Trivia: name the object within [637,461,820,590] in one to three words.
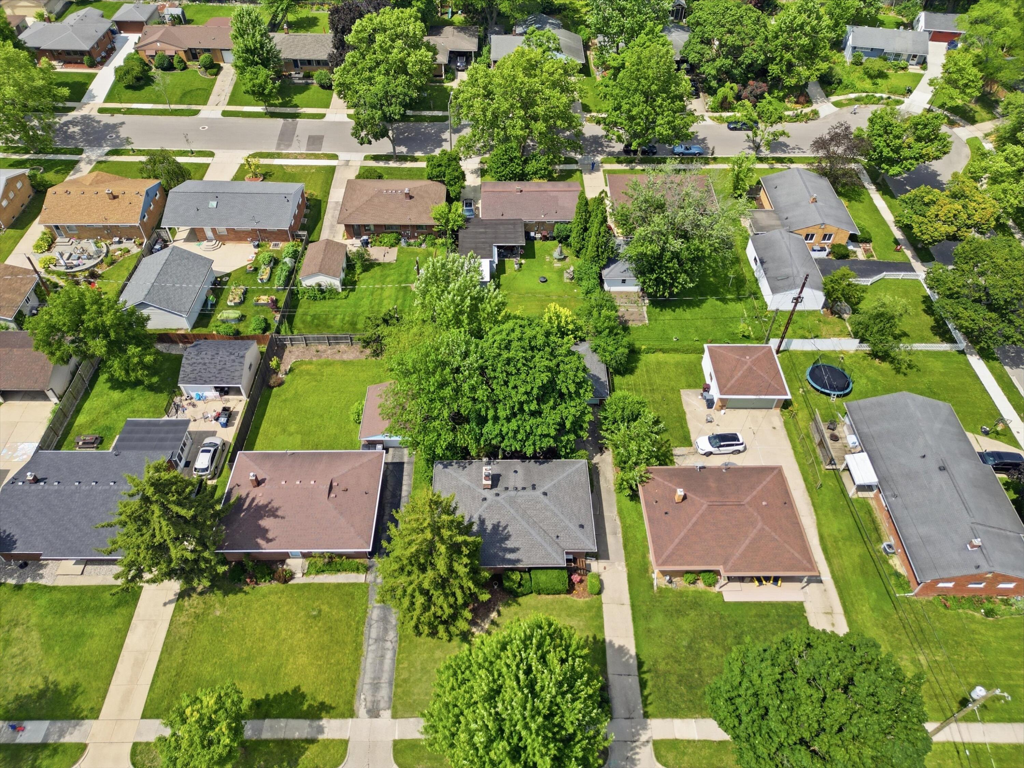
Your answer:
house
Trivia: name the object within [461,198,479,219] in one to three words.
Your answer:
car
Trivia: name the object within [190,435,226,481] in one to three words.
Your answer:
car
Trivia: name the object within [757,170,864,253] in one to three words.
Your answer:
house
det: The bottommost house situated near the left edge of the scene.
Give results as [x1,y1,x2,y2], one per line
[0,418,197,570]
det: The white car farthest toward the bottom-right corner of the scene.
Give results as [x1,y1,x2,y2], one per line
[692,428,749,457]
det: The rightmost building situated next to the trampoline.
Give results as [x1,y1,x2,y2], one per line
[834,394,1024,598]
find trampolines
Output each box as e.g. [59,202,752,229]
[803,351,856,406]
